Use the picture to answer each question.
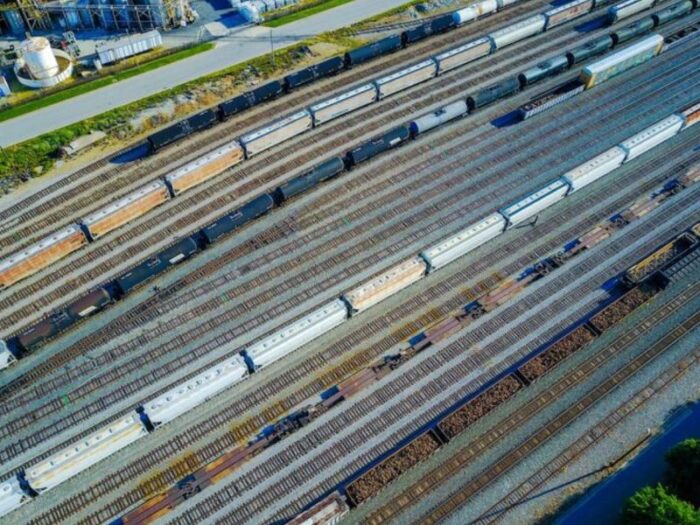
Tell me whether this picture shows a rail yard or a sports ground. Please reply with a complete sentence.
This image shows a rail yard.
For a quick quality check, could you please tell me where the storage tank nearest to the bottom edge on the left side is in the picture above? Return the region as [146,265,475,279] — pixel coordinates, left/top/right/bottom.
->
[19,31,63,79]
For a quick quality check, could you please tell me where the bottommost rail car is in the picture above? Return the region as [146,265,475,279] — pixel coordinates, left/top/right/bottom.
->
[0,473,32,517]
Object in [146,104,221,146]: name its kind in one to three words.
rail car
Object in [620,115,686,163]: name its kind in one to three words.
rail car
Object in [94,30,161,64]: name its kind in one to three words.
trailer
